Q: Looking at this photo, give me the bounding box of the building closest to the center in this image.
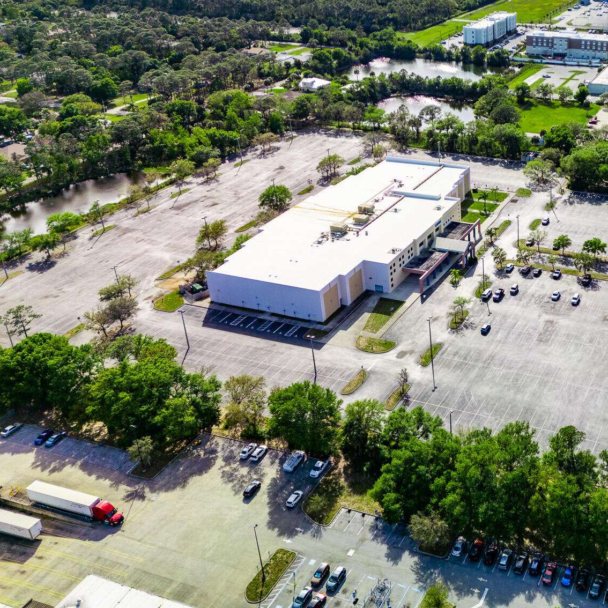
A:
[209,153,479,321]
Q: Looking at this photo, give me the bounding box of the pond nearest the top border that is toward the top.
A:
[342,57,525,84]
